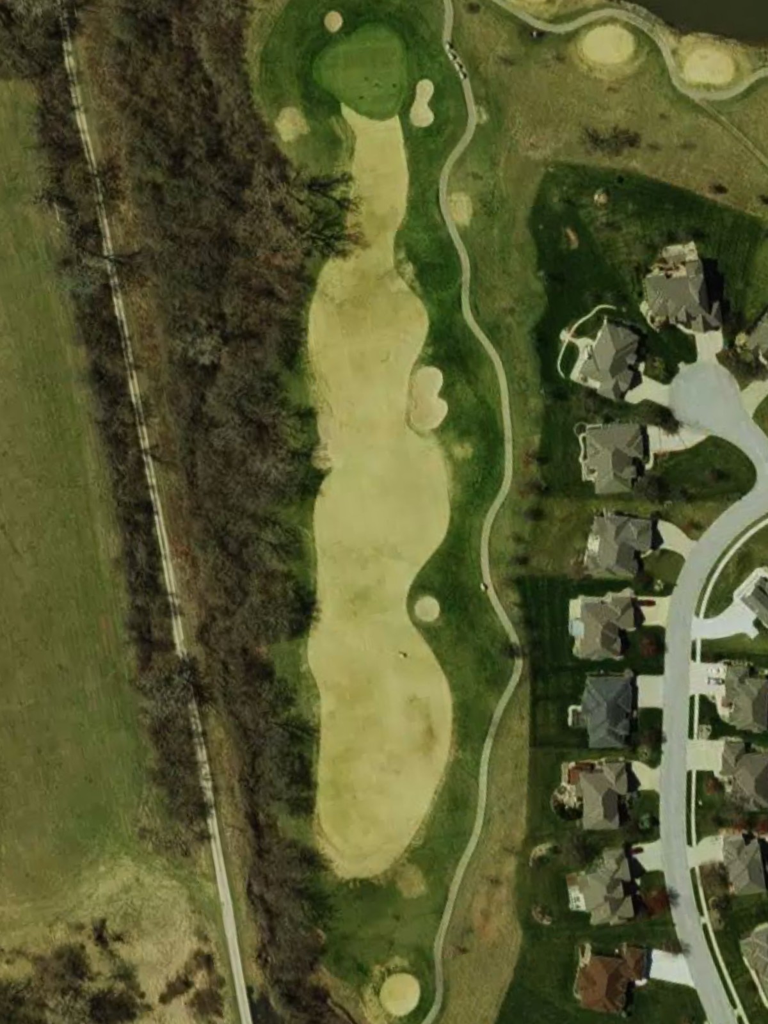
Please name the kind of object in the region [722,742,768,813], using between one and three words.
house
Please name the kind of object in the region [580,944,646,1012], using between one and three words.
house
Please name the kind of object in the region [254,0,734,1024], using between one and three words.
golf course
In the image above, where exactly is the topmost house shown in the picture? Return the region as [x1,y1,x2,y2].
[645,240,723,333]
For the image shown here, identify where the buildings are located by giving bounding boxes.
[722,832,768,897]
[722,742,768,813]
[724,665,768,730]
[569,597,635,659]
[581,676,632,748]
[584,424,643,494]
[566,845,635,924]
[645,240,723,333]
[580,944,646,1012]
[582,763,629,830]
[746,311,768,361]
[737,573,768,632]
[584,510,652,575]
[737,930,768,1011]
[579,322,643,397]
